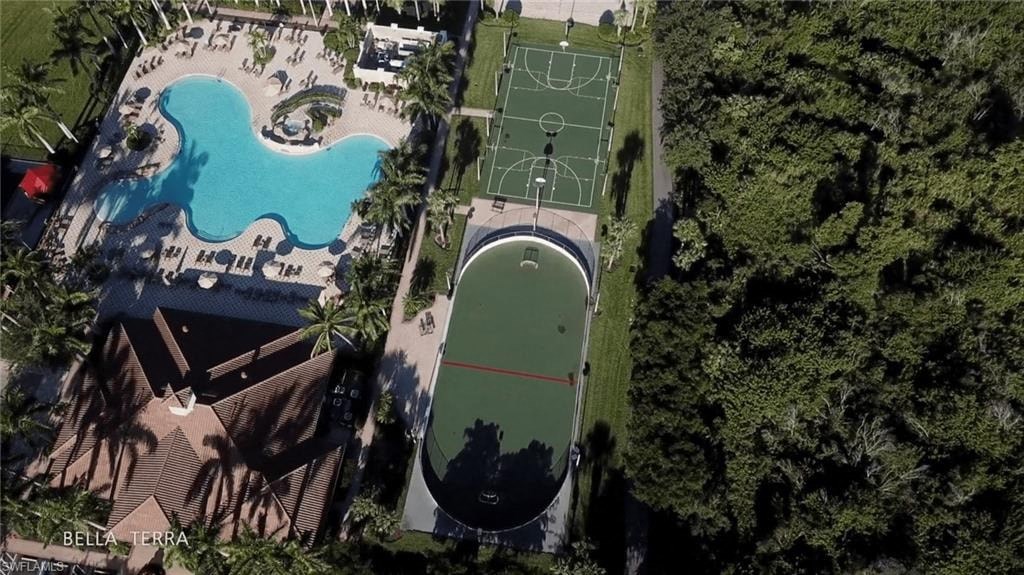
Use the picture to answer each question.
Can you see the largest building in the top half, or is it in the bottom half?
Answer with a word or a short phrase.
bottom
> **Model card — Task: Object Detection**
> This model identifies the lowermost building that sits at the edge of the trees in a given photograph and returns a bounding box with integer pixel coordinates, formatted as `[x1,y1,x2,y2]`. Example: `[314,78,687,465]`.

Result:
[46,306,341,554]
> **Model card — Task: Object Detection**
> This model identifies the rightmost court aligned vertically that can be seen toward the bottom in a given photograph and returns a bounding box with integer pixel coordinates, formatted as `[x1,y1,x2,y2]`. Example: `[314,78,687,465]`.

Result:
[418,228,592,534]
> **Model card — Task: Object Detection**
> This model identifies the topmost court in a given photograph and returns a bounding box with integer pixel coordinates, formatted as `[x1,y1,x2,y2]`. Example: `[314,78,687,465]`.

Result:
[519,0,637,24]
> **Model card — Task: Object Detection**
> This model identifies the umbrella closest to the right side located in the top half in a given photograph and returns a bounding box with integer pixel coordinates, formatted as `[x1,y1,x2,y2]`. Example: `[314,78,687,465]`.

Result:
[376,96,396,114]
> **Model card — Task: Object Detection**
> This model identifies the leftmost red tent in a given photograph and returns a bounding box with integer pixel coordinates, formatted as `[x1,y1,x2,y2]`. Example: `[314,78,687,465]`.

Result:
[18,164,61,202]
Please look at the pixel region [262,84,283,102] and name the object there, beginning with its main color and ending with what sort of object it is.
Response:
white umbrella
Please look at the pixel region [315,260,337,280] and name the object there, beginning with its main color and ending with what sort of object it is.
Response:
white umbrella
